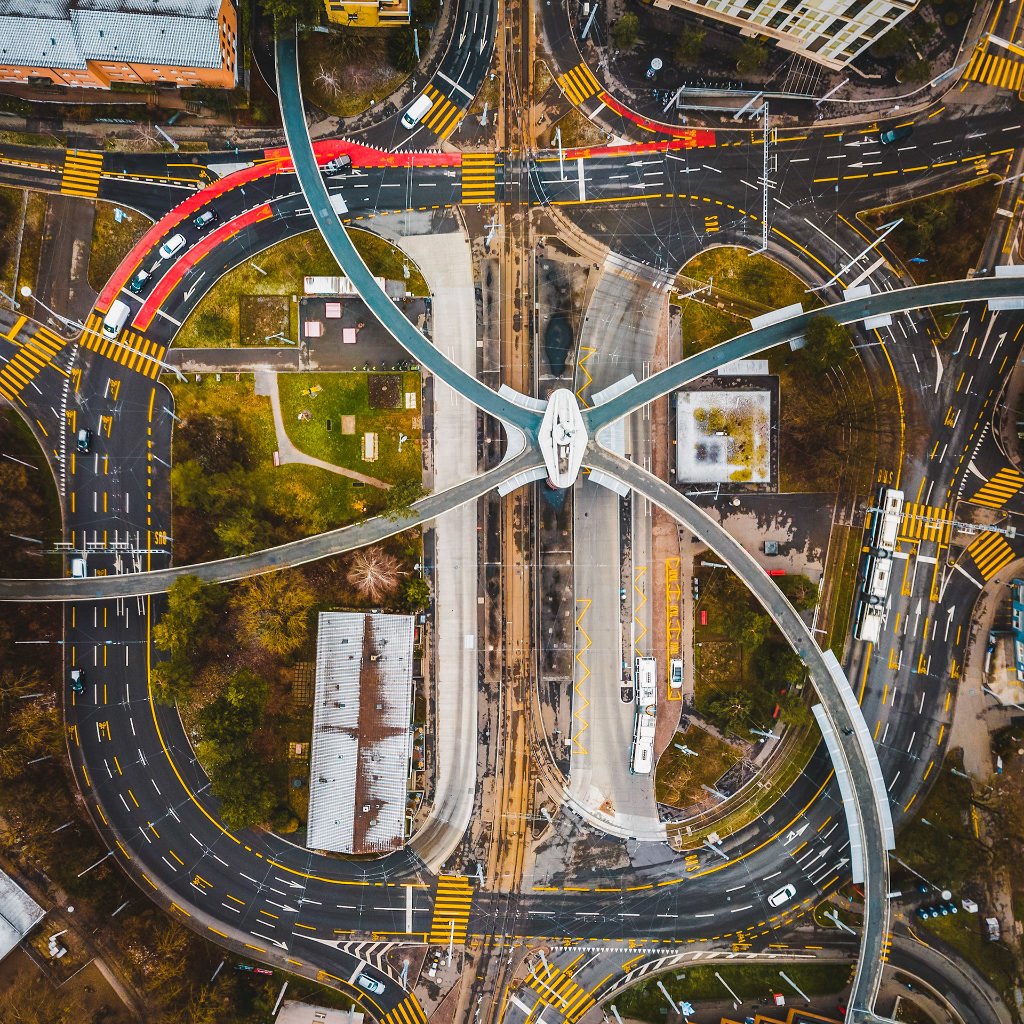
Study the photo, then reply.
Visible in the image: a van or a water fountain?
van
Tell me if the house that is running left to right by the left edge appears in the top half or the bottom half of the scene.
top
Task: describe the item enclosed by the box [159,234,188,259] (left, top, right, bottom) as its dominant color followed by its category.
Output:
white car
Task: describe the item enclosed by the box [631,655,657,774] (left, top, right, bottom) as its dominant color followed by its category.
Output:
white bus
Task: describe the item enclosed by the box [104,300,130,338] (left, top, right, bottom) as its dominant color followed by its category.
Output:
white vehicle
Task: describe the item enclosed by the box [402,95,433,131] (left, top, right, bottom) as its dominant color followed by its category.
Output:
white van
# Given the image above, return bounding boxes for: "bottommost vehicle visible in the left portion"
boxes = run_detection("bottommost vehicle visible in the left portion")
[355,971,387,994]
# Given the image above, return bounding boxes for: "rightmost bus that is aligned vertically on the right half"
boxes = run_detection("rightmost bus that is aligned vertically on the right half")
[853,487,904,654]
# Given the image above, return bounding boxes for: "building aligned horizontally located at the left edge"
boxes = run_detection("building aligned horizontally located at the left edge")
[0,0,239,96]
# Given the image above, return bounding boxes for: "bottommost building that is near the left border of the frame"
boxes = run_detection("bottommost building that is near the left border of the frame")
[0,860,48,958]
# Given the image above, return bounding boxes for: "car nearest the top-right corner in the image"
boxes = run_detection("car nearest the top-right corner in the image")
[879,124,913,145]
